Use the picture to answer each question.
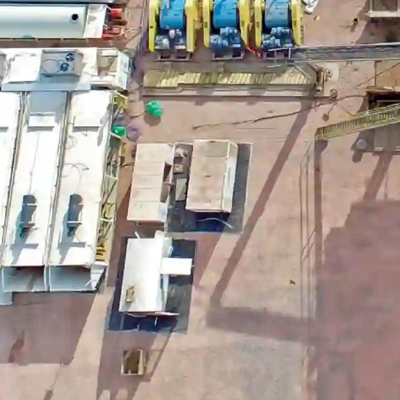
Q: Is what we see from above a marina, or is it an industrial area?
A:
industrial area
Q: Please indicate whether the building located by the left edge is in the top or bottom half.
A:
top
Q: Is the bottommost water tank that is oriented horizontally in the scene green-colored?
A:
No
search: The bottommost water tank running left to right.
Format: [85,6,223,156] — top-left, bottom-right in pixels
[0,3,113,40]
